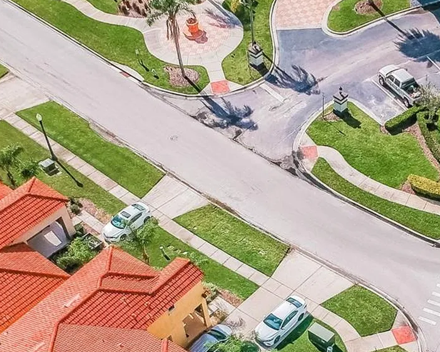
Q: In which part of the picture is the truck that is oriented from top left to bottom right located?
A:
top right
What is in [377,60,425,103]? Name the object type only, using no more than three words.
truck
